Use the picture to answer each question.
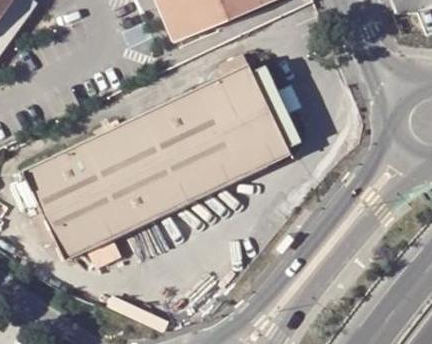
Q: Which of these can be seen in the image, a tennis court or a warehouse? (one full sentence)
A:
Looking from above, you can make out a warehouse.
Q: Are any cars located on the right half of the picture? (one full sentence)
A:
Yes, a car can be seen on the right half of the picture.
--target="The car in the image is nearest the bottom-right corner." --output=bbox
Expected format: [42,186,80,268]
[286,308,306,331]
